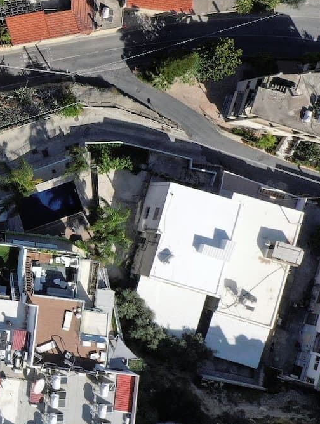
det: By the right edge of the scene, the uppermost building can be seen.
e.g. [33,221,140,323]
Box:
[212,61,320,161]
